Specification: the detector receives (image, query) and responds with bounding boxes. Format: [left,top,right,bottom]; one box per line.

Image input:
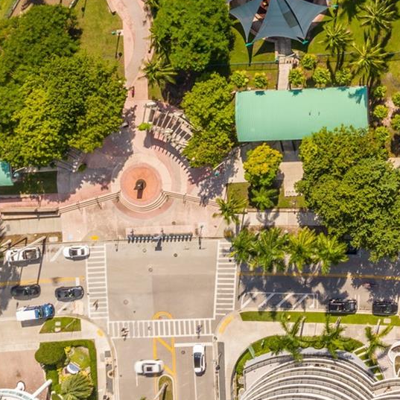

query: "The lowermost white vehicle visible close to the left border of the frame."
[10,306,52,327]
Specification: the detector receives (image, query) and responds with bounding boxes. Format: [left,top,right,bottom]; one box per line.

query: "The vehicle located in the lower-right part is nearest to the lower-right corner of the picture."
[371,302,399,317]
